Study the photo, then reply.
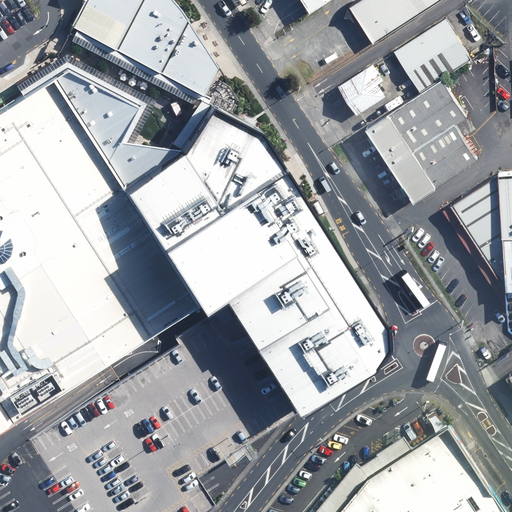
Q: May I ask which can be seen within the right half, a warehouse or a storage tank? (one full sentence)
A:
It is a warehouse that can be seen within the right half.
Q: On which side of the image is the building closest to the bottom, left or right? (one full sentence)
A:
The building closest to the bottom is on the right side of the image.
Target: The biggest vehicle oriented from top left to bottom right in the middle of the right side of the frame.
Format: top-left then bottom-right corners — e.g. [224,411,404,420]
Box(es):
[400,272,429,308]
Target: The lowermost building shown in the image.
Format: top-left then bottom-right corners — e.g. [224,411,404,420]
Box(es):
[314,424,506,512]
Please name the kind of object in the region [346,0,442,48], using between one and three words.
building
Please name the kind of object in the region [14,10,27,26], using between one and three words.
vehicle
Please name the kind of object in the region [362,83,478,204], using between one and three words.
warehouse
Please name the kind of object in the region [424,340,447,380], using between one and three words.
bus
